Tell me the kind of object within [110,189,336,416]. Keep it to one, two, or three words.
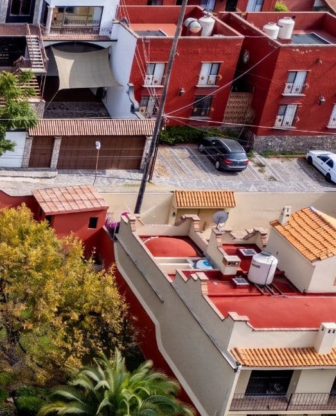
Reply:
house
